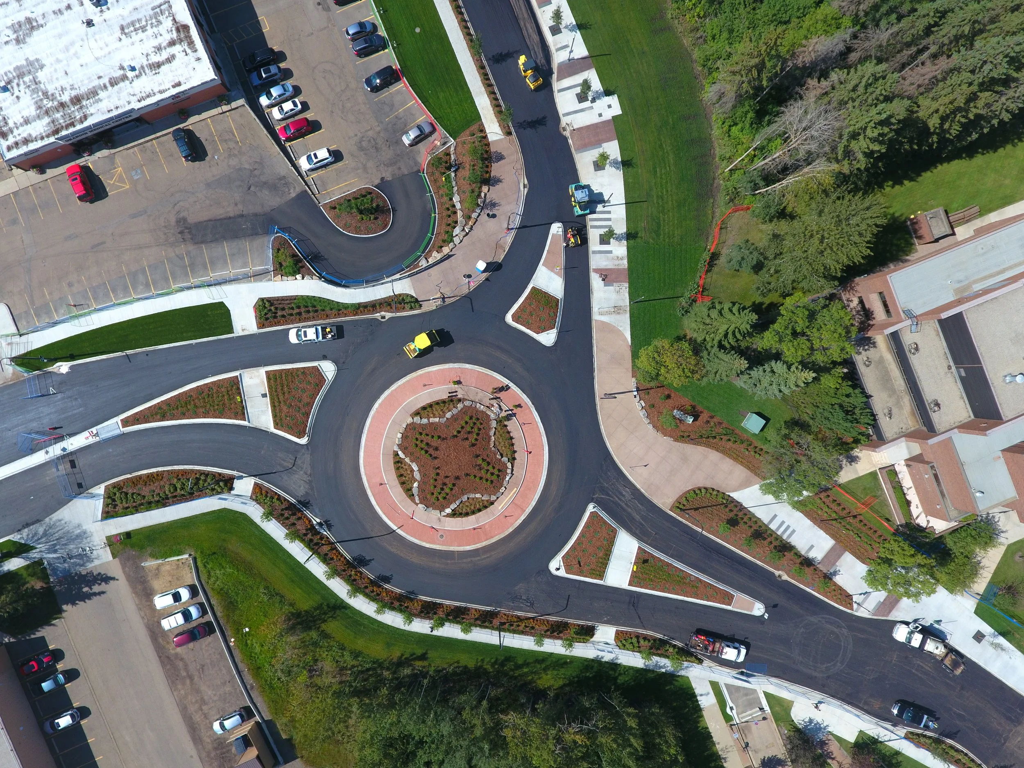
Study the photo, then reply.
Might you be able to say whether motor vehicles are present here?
Yes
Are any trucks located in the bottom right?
Yes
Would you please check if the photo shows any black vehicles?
Yes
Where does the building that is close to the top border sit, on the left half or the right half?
left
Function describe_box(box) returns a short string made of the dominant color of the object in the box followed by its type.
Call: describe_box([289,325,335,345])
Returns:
white vehicle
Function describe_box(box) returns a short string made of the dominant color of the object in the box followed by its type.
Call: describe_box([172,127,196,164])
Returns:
black car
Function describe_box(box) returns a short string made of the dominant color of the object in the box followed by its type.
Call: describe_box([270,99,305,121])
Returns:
white car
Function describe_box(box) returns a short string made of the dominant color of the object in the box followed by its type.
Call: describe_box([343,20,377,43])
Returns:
blue car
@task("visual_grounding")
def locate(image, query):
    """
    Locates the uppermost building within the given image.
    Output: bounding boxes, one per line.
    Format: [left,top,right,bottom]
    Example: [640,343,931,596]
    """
[0,0,226,166]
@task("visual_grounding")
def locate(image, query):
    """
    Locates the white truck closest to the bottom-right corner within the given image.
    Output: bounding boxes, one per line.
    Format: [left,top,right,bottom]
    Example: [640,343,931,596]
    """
[891,621,951,660]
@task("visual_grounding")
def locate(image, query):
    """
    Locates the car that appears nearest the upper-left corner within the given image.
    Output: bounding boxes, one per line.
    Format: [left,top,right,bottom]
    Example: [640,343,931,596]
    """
[68,164,95,205]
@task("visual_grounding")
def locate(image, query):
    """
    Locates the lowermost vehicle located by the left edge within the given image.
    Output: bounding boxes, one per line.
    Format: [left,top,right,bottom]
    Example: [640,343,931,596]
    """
[44,707,82,733]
